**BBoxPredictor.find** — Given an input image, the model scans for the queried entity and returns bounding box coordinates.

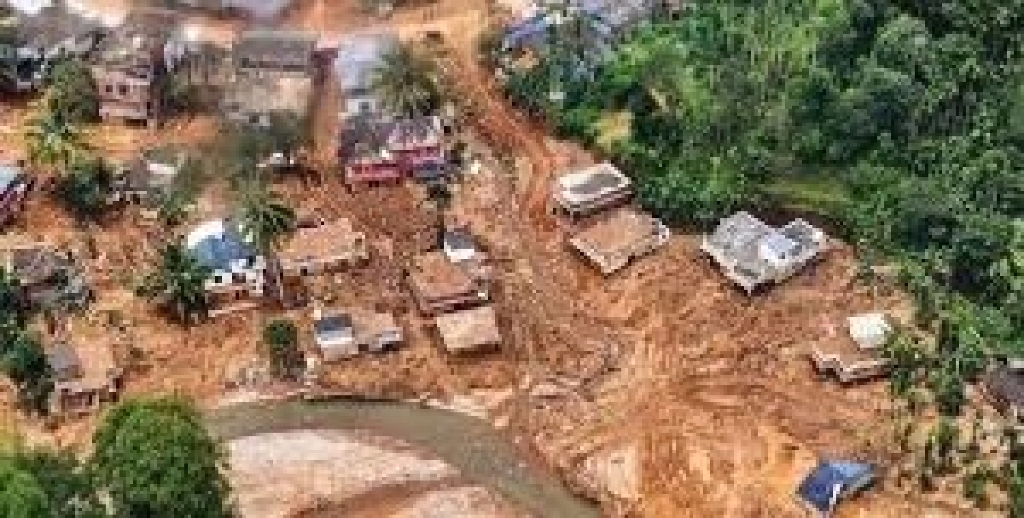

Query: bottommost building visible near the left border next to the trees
[41,325,121,424]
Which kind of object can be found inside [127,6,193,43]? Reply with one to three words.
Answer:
house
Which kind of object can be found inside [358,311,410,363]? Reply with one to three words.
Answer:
house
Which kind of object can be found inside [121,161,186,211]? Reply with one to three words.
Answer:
shed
